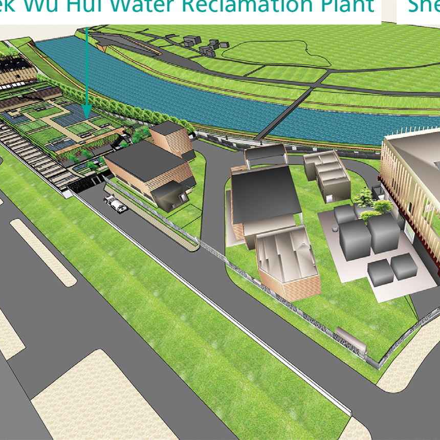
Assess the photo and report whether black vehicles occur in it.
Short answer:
No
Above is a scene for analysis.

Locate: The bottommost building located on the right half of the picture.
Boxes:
[254,224,321,302]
